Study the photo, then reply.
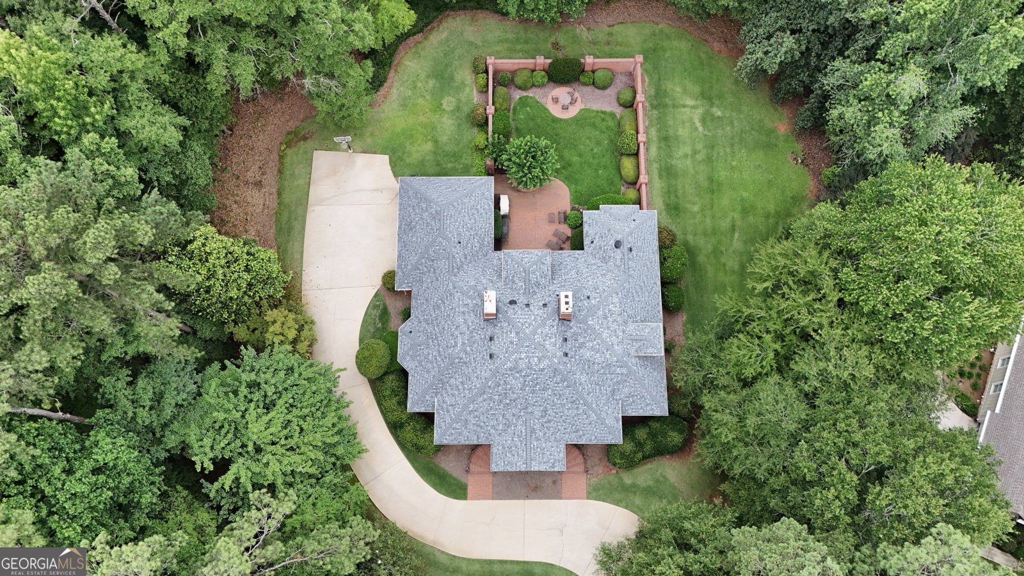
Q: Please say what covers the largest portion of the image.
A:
trees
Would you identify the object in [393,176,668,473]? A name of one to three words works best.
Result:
house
